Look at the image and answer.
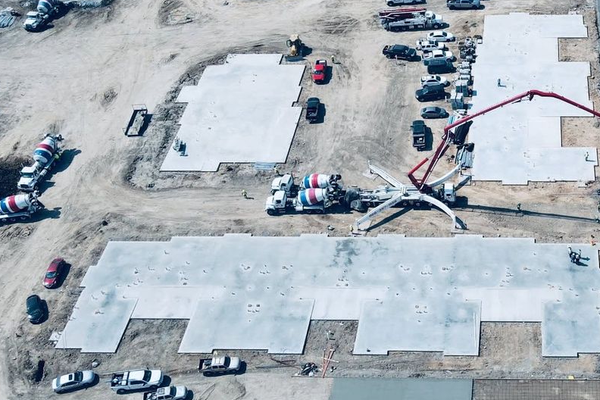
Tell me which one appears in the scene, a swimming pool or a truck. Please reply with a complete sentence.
The image shows a truck.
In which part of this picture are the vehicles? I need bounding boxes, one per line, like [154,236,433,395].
[380,9,441,31]
[422,59,454,76]
[41,260,67,289]
[311,60,327,84]
[447,0,480,11]
[411,124,427,149]
[385,0,418,6]
[305,99,321,122]
[0,193,47,226]
[107,367,166,396]
[427,33,454,44]
[51,370,97,395]
[140,385,193,400]
[192,353,246,375]
[356,89,600,228]
[17,133,64,192]
[420,78,450,90]
[421,51,454,64]
[284,34,303,62]
[381,44,418,60]
[419,109,450,122]
[19,0,59,31]
[419,40,447,53]
[413,86,446,104]
[25,292,47,327]
[270,174,346,202]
